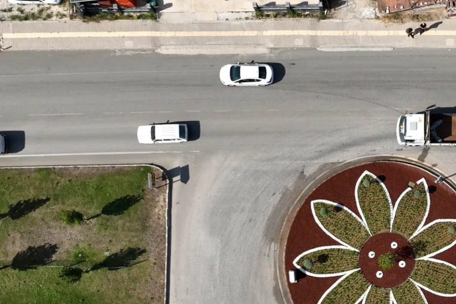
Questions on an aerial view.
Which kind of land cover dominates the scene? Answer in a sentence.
Most of the picture is covered by paved ground.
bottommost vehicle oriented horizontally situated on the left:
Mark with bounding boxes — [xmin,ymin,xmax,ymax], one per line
[138,121,189,144]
